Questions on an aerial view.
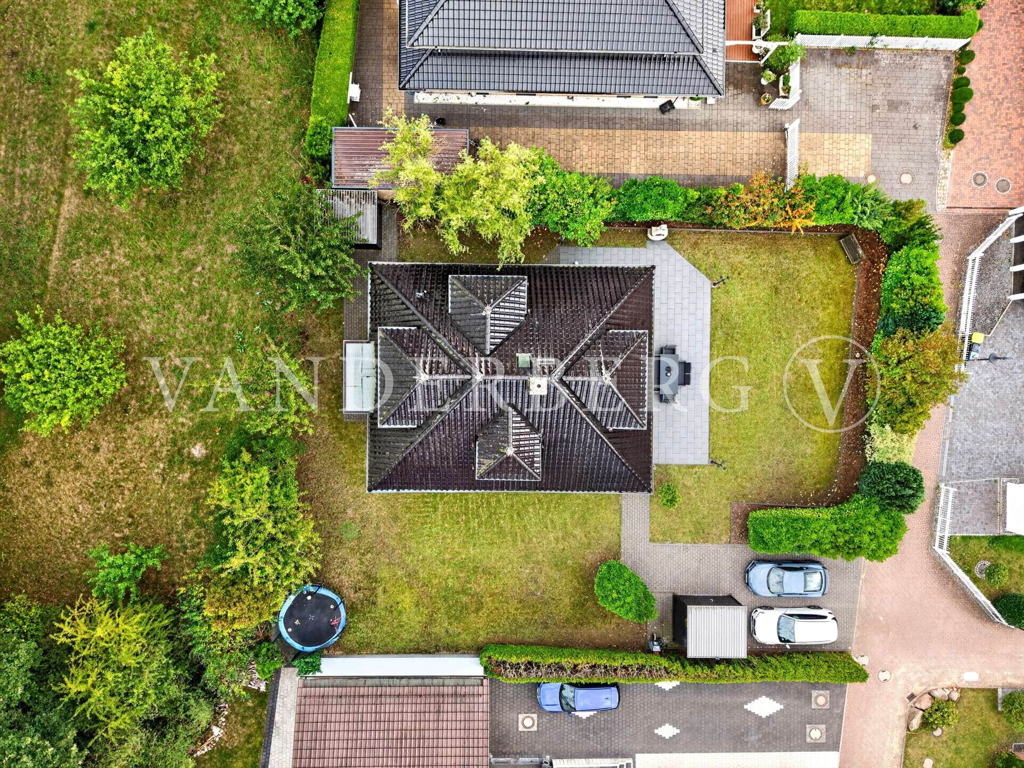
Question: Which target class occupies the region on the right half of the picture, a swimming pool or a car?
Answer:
car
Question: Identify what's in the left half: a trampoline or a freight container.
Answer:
trampoline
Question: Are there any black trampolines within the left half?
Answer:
Yes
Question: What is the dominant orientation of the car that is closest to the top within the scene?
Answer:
horizontally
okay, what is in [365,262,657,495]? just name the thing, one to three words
house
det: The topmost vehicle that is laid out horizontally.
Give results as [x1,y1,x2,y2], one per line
[745,561,831,602]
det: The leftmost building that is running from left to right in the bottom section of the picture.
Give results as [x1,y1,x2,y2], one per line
[291,669,490,768]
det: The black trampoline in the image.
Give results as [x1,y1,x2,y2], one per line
[272,580,348,660]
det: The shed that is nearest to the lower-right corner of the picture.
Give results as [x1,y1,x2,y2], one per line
[673,595,747,661]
